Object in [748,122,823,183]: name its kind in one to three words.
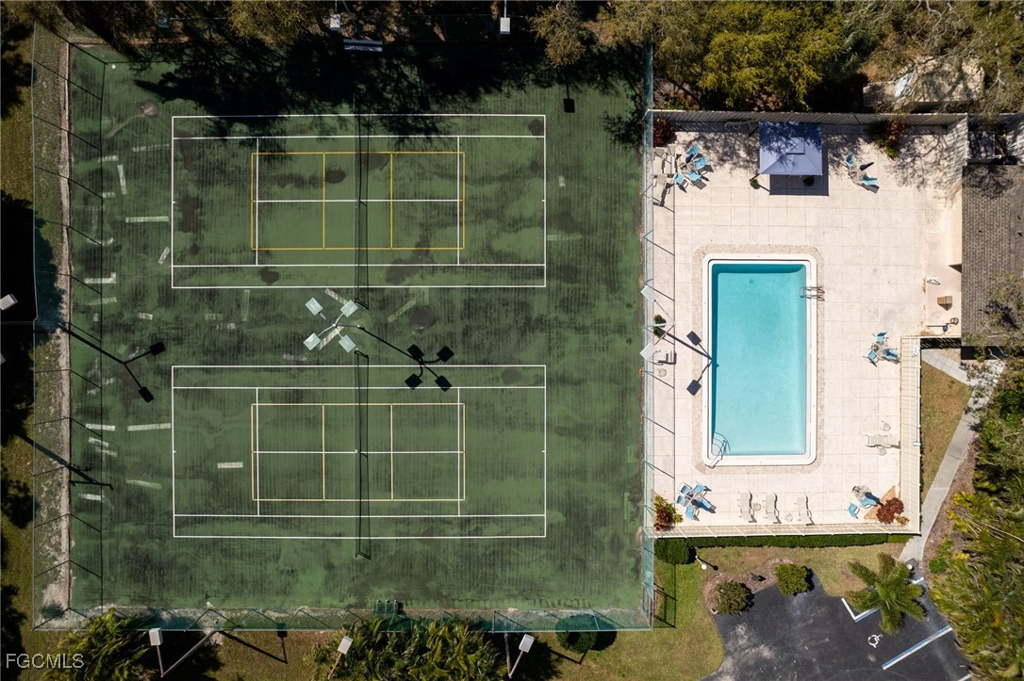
gazebo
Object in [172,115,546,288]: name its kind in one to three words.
tennis court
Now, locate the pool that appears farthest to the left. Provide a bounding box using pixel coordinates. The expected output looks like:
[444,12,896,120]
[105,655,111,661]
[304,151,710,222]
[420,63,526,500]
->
[697,246,824,474]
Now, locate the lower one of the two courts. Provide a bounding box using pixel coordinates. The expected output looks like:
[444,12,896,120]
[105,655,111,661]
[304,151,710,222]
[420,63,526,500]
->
[172,365,546,538]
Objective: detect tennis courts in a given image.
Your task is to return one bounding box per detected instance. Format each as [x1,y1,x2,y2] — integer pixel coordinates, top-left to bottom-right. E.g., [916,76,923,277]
[172,115,546,288]
[172,365,546,538]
